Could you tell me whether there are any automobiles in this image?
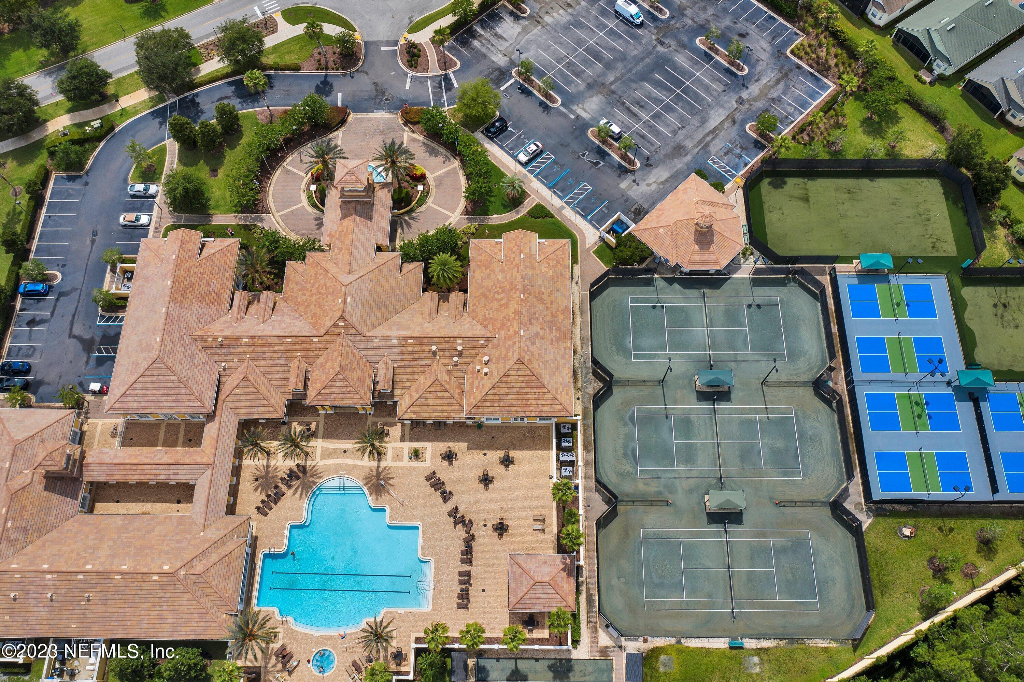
Yes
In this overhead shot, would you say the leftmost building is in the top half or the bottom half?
bottom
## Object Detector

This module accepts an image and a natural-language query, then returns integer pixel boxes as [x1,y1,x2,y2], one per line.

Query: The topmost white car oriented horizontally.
[127,183,158,197]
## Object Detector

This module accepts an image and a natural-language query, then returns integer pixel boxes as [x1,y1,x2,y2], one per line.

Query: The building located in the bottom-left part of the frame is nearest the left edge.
[0,409,257,641]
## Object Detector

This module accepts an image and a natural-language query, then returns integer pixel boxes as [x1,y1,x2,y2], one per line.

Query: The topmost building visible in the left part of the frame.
[104,159,575,426]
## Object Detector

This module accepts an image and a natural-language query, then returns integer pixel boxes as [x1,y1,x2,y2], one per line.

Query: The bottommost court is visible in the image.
[476,660,612,682]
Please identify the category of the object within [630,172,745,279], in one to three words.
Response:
building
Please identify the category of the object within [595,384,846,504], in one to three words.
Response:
tennis court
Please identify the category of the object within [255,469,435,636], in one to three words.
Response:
swimming pool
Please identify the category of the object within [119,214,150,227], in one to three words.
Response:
vehicle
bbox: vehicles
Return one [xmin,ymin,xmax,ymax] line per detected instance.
[85,381,109,394]
[614,0,643,24]
[18,282,49,296]
[598,118,624,139]
[127,183,158,197]
[517,141,544,164]
[0,361,31,375]
[119,214,150,227]
[483,115,510,137]
[0,378,28,392]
